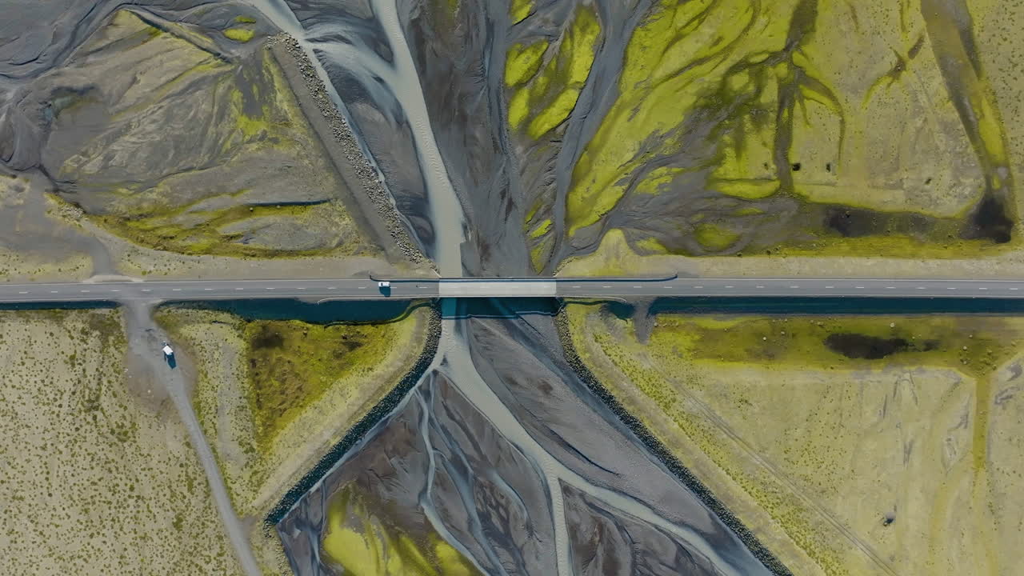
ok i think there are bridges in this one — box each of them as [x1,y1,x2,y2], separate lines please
[433,270,556,297]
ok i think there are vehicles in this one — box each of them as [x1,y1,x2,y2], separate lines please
[161,342,174,356]
[378,282,390,287]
